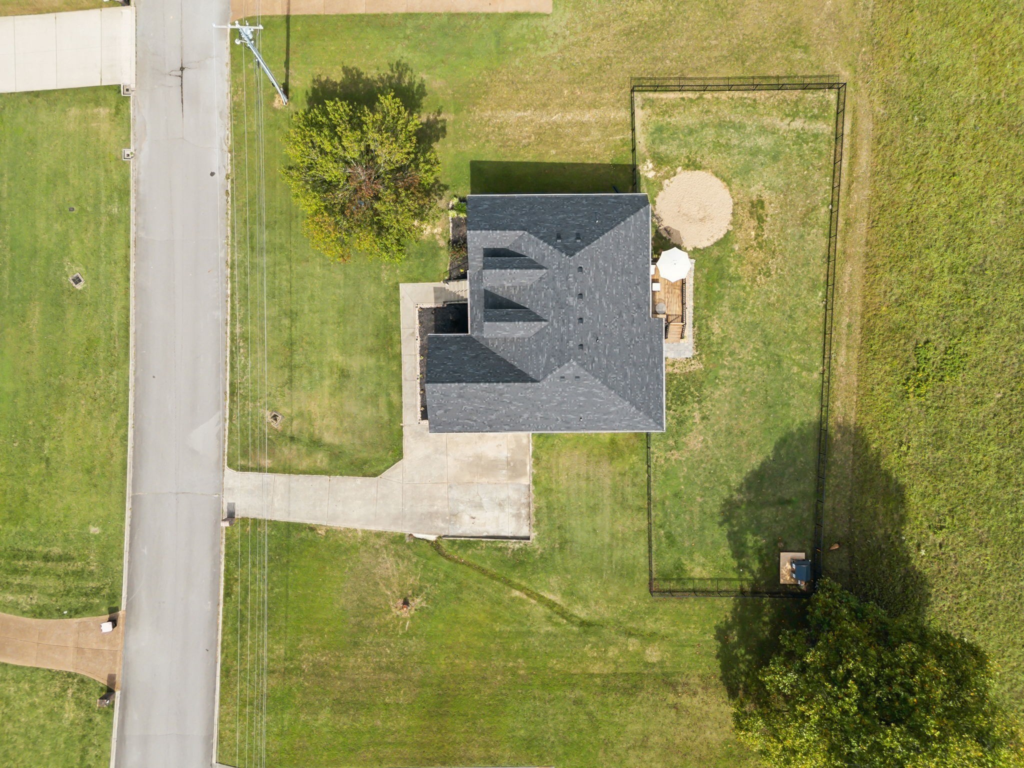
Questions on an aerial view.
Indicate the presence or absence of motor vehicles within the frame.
No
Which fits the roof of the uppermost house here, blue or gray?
gray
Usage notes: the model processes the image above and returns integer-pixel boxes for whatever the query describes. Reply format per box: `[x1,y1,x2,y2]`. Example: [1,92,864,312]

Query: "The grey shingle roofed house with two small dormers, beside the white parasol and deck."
[424,193,667,433]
